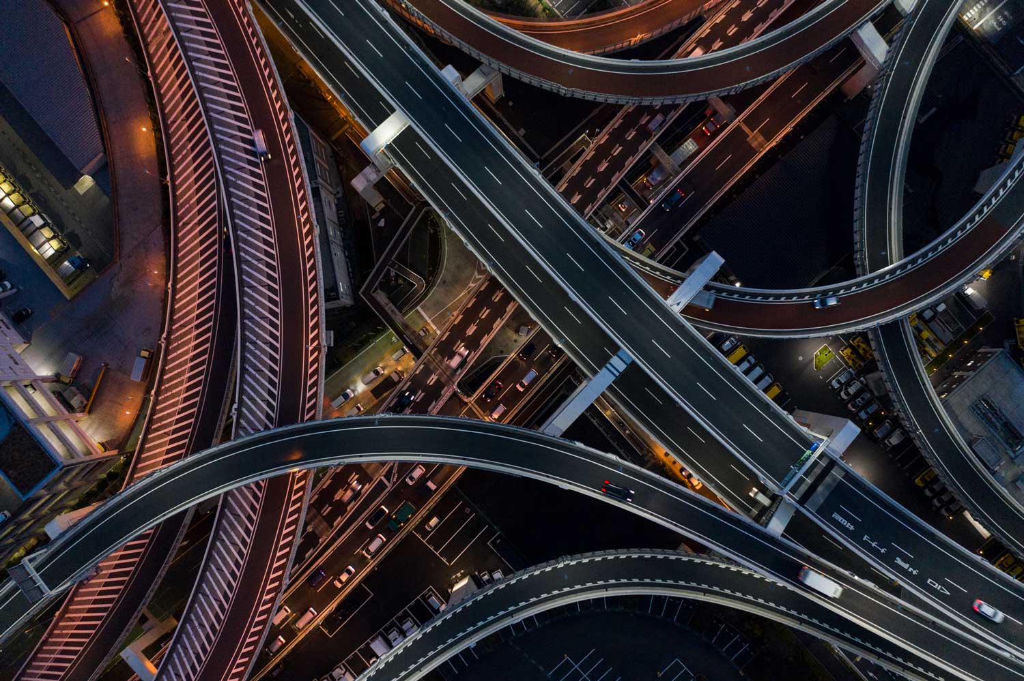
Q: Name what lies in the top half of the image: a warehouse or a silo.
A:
warehouse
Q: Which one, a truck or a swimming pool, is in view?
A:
truck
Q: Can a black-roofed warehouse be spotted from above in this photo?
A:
Yes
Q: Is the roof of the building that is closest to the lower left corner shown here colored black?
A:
Yes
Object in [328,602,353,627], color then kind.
black car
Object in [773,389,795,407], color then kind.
black vehicle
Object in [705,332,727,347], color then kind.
black car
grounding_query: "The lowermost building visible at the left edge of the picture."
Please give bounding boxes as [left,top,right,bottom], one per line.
[0,384,84,499]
